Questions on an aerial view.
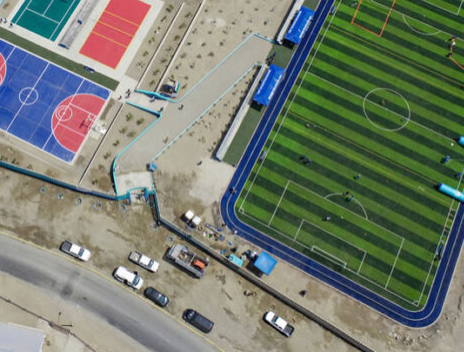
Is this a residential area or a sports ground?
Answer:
sports ground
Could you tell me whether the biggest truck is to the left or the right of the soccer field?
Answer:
to the left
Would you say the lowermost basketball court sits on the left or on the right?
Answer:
left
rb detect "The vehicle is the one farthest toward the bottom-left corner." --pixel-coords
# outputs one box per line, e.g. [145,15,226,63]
[59,241,90,262]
